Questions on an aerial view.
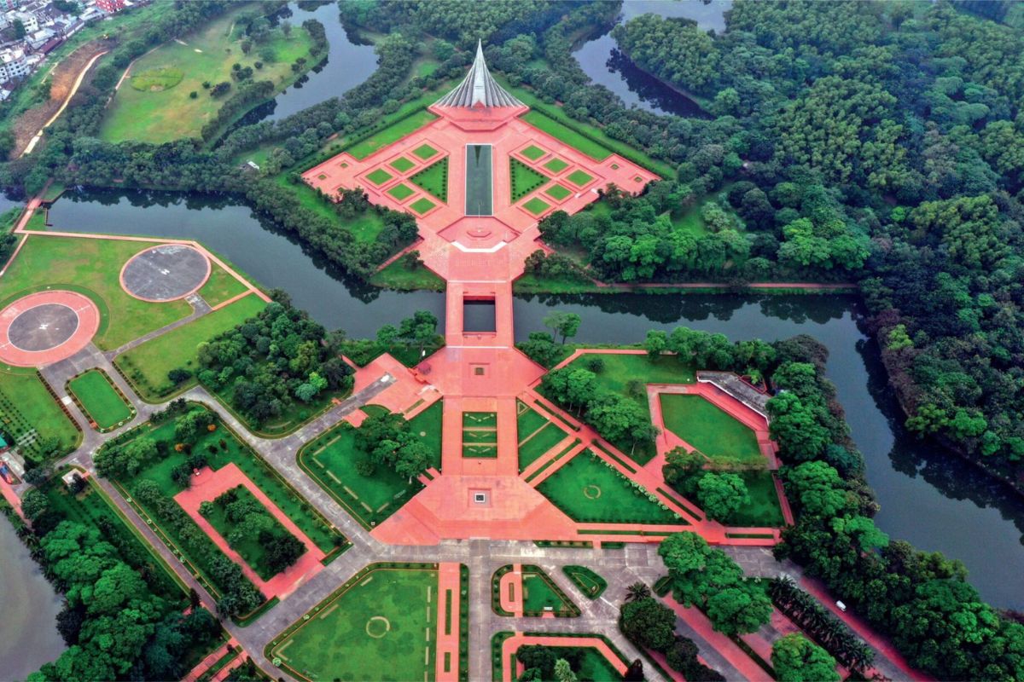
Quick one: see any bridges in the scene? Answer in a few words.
Yes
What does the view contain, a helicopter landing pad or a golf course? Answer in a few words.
helicopter landing pad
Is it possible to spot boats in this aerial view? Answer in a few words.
No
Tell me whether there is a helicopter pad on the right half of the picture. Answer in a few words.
No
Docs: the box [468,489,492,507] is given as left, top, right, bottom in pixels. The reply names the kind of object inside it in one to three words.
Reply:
fountain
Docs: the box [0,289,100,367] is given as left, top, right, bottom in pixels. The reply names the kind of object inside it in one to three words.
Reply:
helipad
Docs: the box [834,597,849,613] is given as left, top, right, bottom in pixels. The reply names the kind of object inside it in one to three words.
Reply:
vehicle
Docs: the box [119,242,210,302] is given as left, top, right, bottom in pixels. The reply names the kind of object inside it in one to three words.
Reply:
helipad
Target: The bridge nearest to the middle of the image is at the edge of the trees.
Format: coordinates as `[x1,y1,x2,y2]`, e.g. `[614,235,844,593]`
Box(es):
[446,281,514,346]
